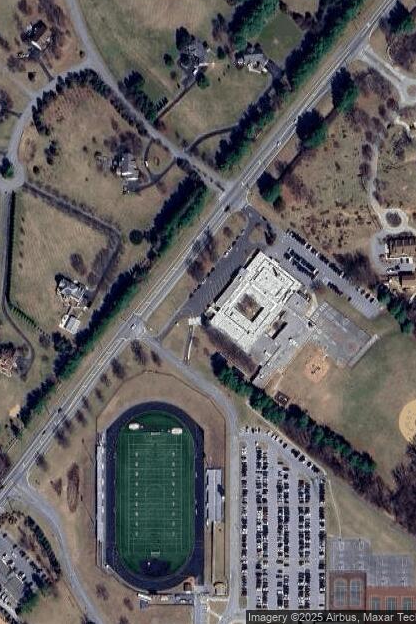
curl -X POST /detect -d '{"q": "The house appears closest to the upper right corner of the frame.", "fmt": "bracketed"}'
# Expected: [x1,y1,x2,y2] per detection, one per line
[237,52,266,70]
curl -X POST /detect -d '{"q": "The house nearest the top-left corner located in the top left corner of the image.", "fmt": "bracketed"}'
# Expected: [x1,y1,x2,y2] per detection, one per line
[23,21,51,50]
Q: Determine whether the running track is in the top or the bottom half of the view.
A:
bottom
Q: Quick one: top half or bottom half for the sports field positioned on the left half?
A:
bottom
